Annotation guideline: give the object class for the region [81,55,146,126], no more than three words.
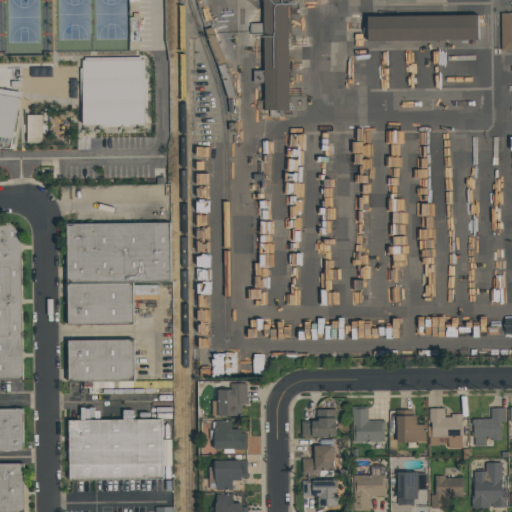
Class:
building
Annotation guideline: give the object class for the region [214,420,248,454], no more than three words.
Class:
house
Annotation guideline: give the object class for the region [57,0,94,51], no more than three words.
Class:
basketball court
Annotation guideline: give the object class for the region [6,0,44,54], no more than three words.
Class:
basketball court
